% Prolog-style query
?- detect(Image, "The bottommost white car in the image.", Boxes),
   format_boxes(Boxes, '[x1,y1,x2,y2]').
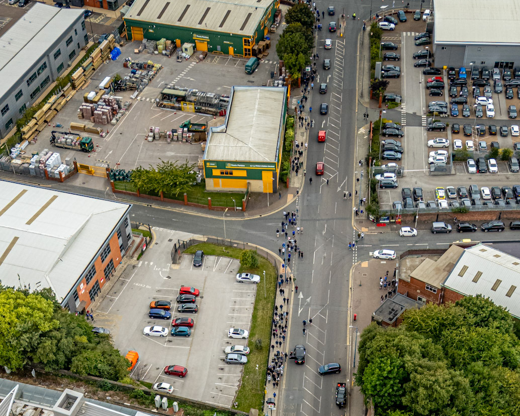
[152,382,175,396]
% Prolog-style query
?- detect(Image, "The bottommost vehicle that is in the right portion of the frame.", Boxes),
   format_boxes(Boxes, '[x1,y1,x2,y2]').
[334,385,348,408]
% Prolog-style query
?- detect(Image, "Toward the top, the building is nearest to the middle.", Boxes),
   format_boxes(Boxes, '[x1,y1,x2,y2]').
[202,86,290,193]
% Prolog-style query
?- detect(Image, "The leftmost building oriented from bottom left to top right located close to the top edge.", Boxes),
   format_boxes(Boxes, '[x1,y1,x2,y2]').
[0,2,88,141]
